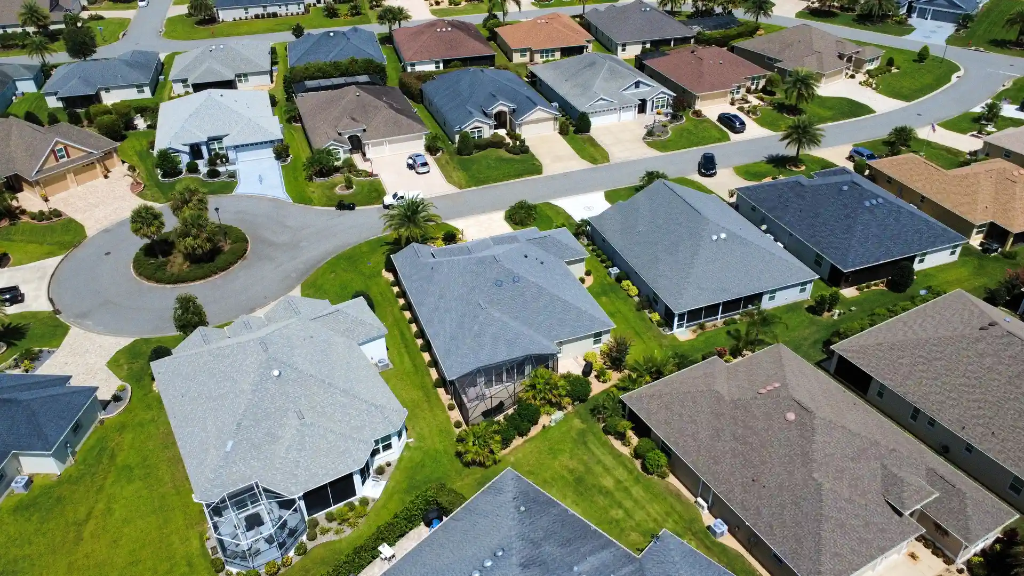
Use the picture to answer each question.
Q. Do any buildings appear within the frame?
Yes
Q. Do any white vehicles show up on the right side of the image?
No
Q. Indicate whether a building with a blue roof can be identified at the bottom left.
Yes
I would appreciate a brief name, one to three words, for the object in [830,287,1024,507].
house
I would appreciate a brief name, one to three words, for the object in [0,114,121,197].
house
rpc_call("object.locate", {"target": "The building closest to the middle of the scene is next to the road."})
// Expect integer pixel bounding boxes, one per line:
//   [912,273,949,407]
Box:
[390,227,617,425]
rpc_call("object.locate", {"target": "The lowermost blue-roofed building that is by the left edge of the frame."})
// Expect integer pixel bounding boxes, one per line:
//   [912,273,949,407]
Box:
[0,373,109,500]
